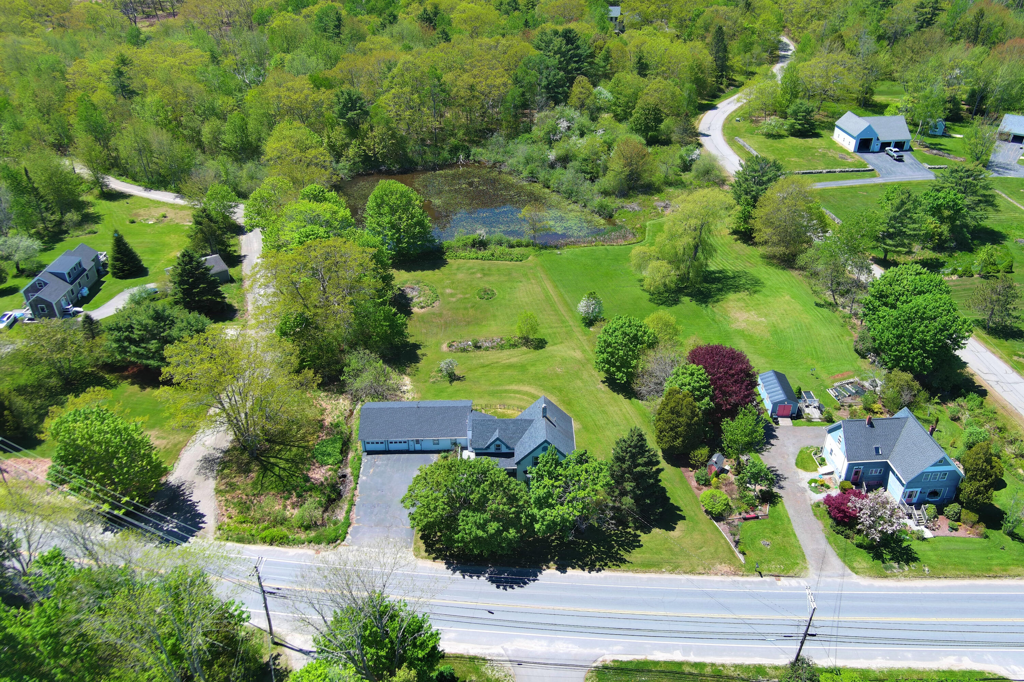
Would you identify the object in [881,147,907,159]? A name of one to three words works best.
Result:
vehicle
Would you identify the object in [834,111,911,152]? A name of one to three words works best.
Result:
building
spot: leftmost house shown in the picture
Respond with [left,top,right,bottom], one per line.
[18,240,112,318]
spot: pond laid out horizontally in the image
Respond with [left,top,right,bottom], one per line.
[328,164,609,258]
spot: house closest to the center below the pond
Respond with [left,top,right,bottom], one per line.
[359,393,576,485]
